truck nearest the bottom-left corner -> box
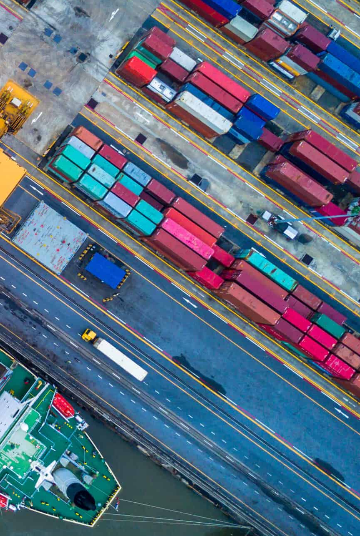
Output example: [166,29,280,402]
[79,327,149,382]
